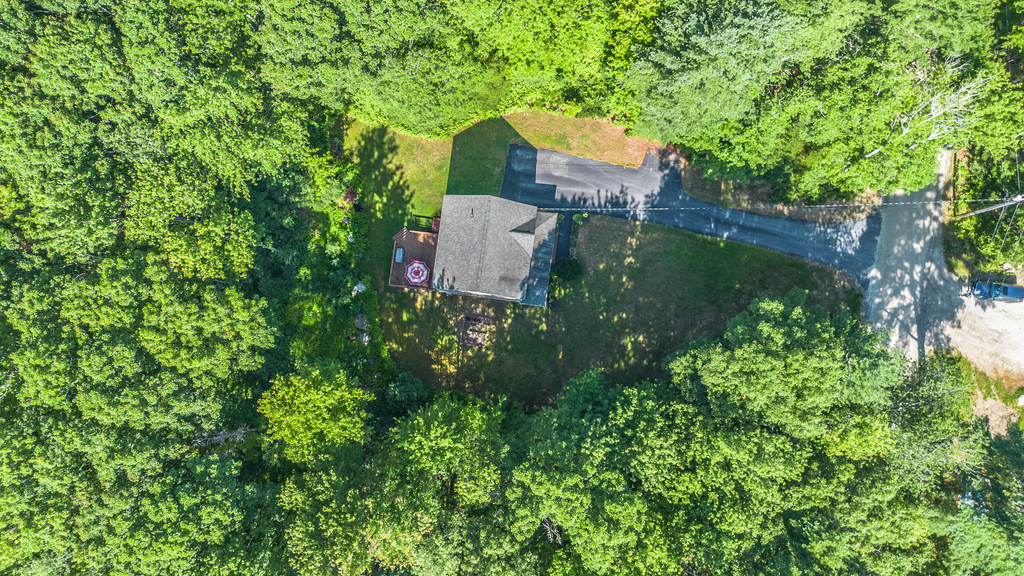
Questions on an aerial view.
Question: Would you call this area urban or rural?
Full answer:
The land in this view is best described as rural.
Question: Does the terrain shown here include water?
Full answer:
No, there is no water in the image.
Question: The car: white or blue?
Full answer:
In this view, the car is blue.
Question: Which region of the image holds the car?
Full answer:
The car is located in the right region of the scene.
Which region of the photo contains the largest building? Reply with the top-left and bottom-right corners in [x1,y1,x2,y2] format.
[430,194,559,308]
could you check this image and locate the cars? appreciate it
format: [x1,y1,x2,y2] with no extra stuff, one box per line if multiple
[974,279,1024,305]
